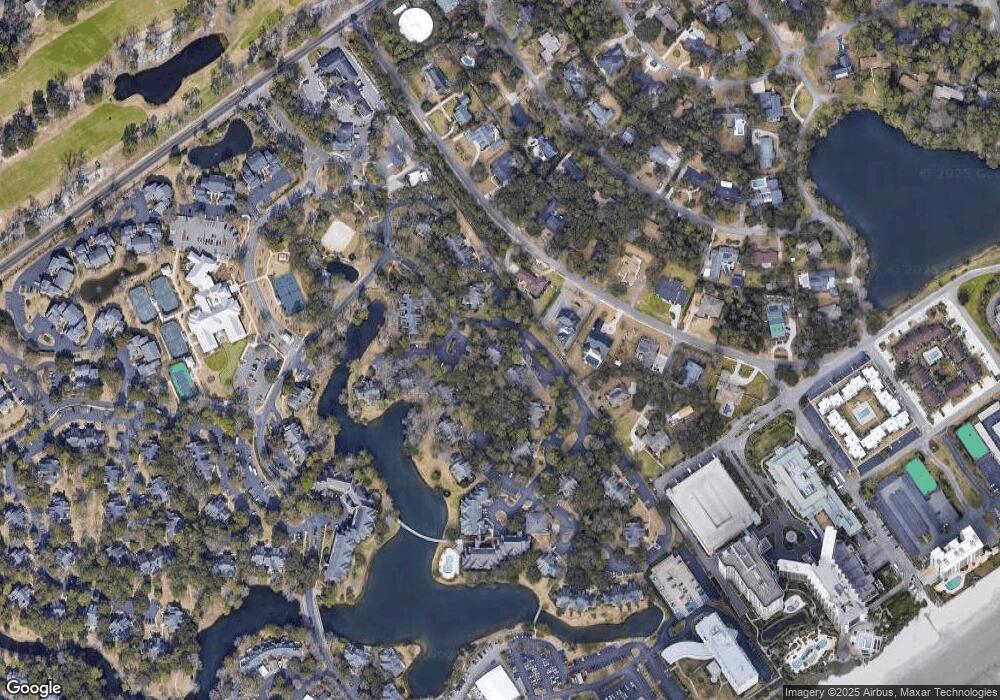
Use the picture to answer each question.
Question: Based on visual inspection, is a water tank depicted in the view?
Yes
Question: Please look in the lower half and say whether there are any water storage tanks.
No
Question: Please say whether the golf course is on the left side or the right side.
left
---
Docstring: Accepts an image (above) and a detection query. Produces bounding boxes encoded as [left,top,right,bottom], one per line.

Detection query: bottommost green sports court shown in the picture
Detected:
[905,459,937,493]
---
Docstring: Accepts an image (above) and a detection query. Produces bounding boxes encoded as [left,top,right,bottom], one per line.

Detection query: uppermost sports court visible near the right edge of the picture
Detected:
[955,423,988,459]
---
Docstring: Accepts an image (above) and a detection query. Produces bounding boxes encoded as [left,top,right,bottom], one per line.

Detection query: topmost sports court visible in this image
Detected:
[322,221,354,252]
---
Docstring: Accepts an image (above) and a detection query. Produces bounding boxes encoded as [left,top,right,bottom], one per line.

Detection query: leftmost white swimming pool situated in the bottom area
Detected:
[438,547,460,580]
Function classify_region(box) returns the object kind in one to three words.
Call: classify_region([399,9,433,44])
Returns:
water tank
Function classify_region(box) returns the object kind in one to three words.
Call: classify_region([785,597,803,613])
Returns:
swimming pool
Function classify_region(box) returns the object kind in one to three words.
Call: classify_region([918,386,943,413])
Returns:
building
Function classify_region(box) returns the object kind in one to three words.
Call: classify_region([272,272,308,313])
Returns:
tennis court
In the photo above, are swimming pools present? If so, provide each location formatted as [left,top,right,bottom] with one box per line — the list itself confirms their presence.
[936,571,965,593]
[852,399,876,425]
[785,597,803,613]
[852,630,882,653]
[461,56,474,66]
[785,632,837,676]
[923,346,943,365]
[438,547,460,580]
[720,402,733,416]
[751,179,767,189]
